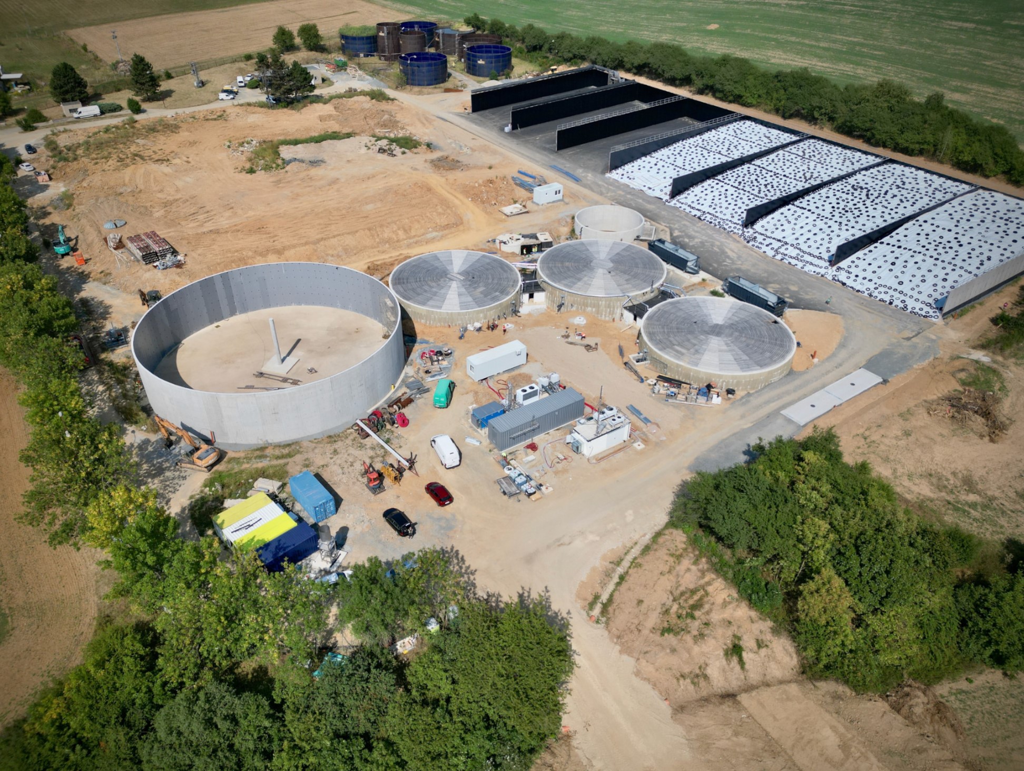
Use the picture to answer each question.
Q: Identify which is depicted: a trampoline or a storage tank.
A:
storage tank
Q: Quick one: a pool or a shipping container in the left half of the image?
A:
shipping container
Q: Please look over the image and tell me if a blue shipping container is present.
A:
Yes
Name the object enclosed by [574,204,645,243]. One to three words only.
storage tank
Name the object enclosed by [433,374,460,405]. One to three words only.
vehicle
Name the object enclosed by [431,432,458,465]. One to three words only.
vehicle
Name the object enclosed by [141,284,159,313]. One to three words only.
work vehicle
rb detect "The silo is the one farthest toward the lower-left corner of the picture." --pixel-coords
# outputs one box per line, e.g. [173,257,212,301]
[316,529,335,567]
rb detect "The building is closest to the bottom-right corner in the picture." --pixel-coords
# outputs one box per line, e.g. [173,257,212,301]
[572,407,633,458]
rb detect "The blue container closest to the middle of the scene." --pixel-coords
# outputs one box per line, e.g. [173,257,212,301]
[289,469,337,523]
